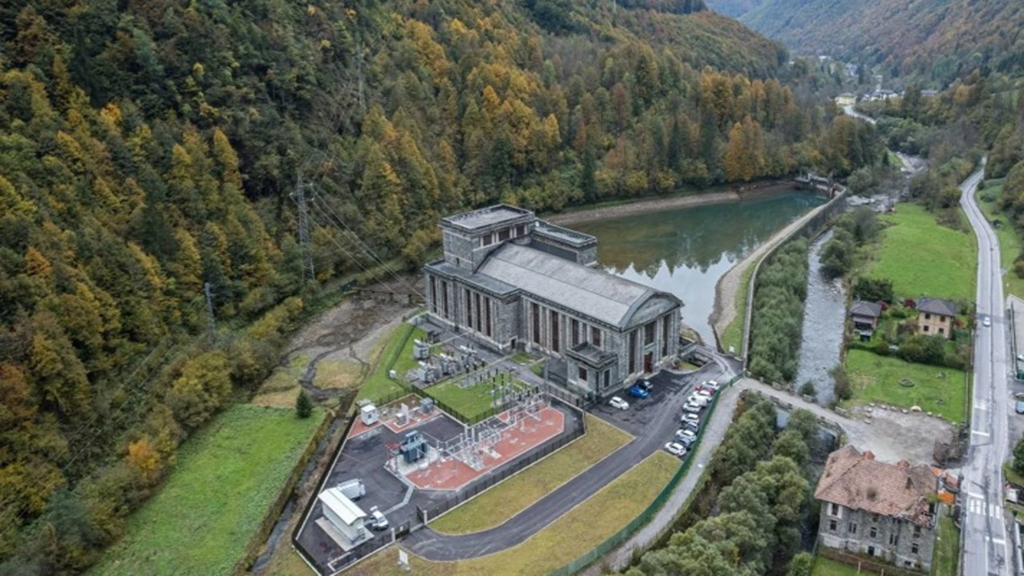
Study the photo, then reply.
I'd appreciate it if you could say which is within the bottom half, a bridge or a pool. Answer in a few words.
bridge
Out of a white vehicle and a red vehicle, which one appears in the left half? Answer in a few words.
white vehicle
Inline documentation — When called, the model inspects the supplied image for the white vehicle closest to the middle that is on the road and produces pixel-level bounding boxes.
[608,395,629,408]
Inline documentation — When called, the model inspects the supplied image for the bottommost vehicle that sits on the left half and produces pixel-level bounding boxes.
[367,504,388,530]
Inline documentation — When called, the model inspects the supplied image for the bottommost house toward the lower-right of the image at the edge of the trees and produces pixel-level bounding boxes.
[816,441,951,575]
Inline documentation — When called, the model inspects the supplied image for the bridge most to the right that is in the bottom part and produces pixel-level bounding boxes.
[751,382,844,452]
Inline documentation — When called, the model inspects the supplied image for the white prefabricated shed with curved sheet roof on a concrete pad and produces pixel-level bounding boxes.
[311,489,379,550]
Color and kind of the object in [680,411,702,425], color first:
white car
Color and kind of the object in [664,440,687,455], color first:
white car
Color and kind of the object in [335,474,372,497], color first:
white truck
